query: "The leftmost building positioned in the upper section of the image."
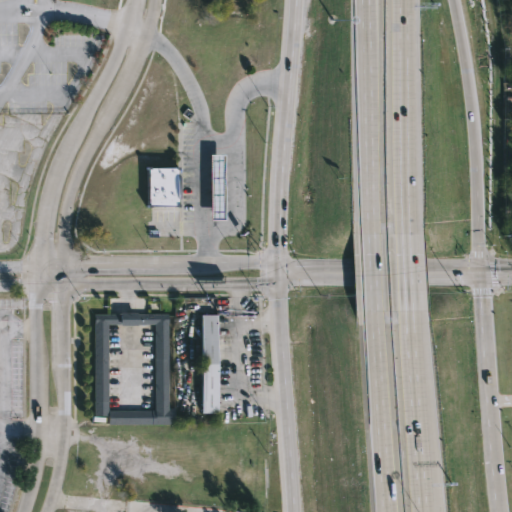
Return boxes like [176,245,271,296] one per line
[147,167,182,207]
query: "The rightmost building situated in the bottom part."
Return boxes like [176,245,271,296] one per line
[202,315,220,413]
